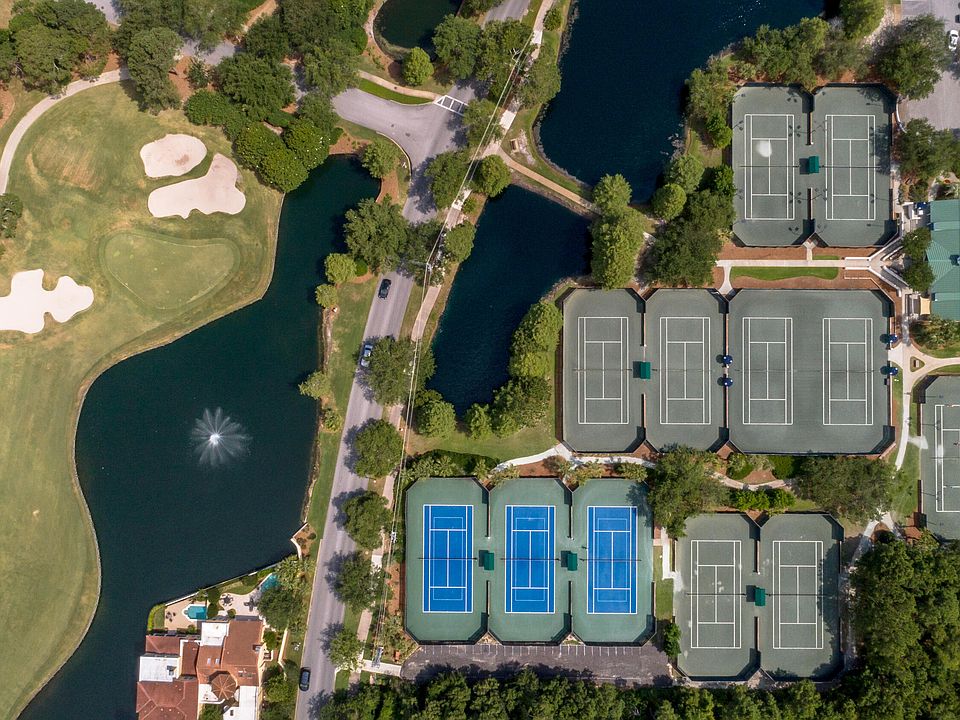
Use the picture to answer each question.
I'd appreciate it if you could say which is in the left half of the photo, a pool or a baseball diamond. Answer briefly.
pool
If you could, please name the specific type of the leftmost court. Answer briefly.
tennis court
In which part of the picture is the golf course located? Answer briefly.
left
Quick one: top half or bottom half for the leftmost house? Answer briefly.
bottom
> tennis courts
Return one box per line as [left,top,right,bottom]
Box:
[573,482,653,644]
[729,290,808,453]
[564,289,646,451]
[646,289,729,452]
[761,517,841,680]
[922,378,960,540]
[489,482,573,643]
[677,517,761,681]
[807,291,892,454]
[738,86,813,243]
[813,87,892,244]
[406,481,489,643]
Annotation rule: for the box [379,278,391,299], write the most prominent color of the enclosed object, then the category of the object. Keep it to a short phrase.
black vehicle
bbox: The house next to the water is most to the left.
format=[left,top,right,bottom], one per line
[135,629,206,720]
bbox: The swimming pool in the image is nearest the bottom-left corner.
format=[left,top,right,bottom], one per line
[181,603,208,622]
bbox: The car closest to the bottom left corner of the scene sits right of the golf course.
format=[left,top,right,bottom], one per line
[298,667,310,690]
